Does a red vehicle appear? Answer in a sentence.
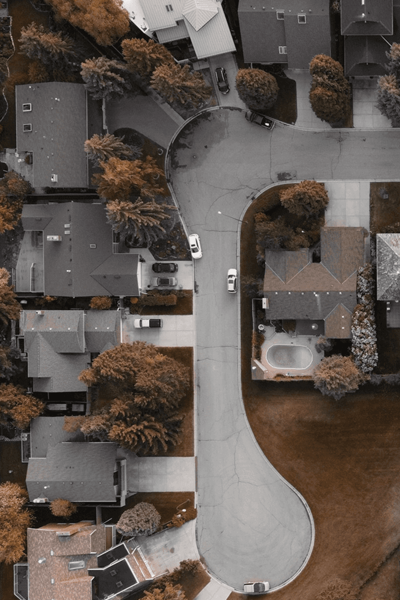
No, the frame has no red vehicle in it.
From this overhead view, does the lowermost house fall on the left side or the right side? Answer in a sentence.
The lowermost house sits on the left side.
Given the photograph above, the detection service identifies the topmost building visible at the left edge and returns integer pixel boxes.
[15,81,96,192]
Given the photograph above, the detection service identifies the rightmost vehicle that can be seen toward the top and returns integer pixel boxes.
[244,108,277,132]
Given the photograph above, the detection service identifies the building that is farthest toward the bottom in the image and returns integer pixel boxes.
[28,521,159,600]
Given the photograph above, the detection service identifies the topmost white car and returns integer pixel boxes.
[188,233,205,260]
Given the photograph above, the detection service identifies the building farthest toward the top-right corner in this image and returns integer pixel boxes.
[340,0,400,79]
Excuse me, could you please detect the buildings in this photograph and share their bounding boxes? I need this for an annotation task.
[253,360,269,379]
[340,0,400,79]
[121,0,242,63]
[258,225,365,339]
[15,81,96,192]
[14,310,128,392]
[238,0,332,73]
[26,417,134,504]
[28,521,159,600]
[376,233,400,301]
[16,201,146,296]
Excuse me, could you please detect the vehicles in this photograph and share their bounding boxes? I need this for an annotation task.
[225,268,240,294]
[243,582,271,594]
[244,108,277,132]
[152,261,179,273]
[214,67,231,95]
[152,275,179,288]
[135,317,165,329]
[188,233,205,260]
